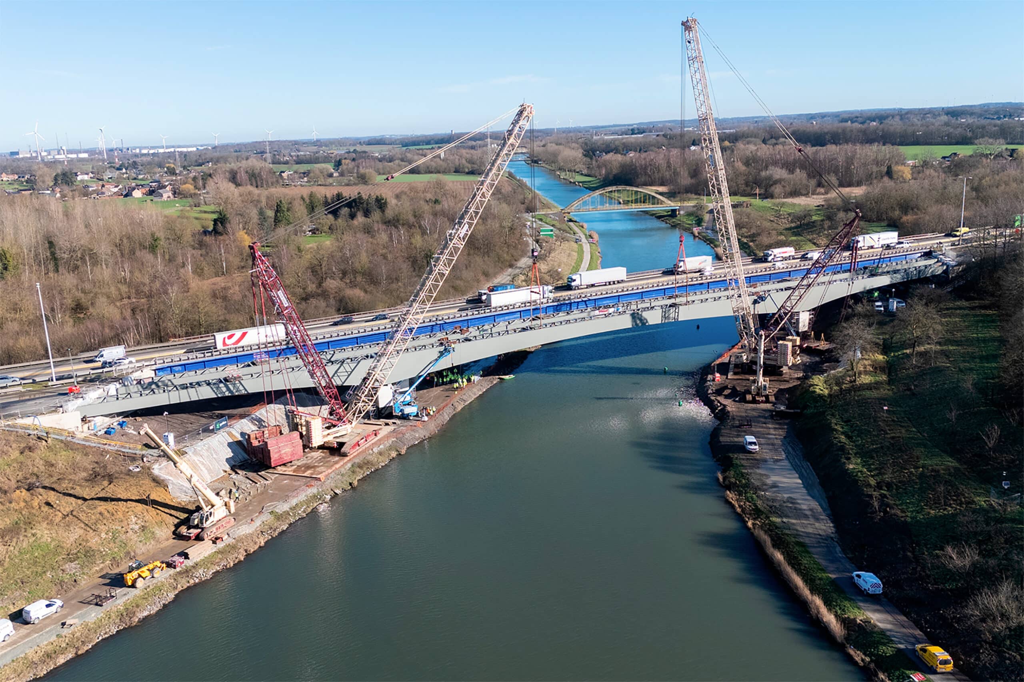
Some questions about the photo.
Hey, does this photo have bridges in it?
Yes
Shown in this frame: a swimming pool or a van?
van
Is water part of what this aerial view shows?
Yes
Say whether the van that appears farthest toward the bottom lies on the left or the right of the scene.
right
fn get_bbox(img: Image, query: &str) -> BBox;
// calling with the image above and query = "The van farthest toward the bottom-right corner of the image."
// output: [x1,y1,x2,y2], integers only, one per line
[911,643,962,676]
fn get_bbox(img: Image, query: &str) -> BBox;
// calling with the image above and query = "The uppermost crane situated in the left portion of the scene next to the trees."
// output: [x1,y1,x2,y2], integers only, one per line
[248,93,537,457]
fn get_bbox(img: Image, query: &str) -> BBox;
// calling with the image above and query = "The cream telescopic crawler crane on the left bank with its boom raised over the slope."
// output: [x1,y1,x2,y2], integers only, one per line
[135,419,240,537]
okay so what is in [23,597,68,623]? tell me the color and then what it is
white vehicle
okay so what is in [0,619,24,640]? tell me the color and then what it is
white vehicle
